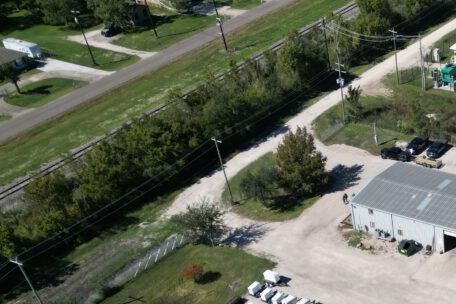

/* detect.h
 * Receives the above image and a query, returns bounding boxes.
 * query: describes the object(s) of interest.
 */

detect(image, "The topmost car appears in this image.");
[98,23,122,37]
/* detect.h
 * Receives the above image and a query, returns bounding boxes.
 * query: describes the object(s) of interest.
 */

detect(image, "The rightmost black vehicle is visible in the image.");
[427,137,448,159]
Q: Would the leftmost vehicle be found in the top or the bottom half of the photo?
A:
top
